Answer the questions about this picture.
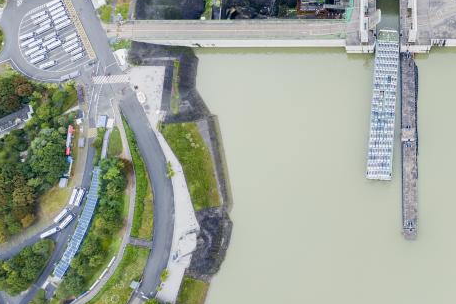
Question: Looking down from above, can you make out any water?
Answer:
Yes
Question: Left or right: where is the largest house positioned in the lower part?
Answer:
left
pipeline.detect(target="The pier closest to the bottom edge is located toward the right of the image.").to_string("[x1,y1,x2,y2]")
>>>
[402,54,417,240]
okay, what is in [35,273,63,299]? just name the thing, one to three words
house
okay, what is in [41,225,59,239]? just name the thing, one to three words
vehicle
